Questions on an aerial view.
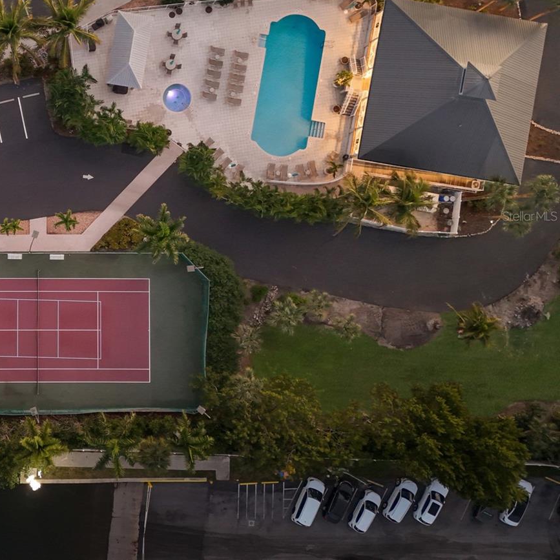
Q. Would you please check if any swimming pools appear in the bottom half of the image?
No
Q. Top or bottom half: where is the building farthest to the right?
top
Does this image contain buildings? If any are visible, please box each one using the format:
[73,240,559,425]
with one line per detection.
[107,12,154,90]
[349,0,548,193]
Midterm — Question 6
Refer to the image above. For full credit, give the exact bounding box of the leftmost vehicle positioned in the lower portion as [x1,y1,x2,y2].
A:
[292,481,325,528]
